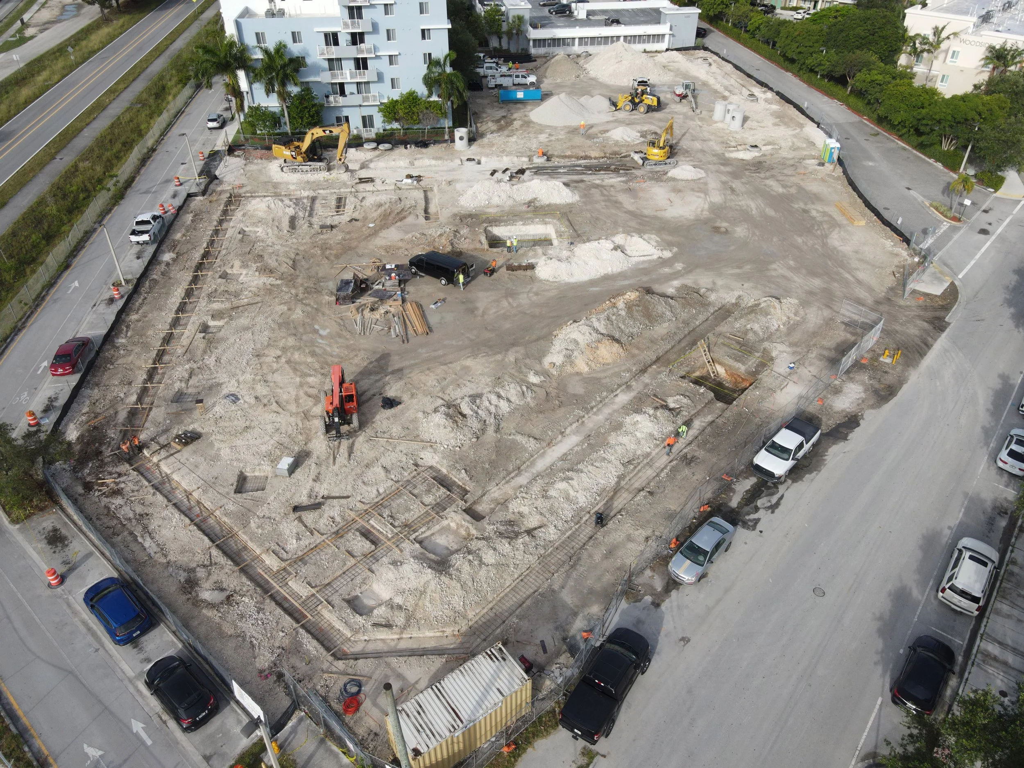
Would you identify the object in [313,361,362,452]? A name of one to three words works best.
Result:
work vehicle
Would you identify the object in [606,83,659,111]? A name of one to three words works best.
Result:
work vehicle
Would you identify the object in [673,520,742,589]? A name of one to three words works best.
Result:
car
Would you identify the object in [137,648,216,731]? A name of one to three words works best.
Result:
car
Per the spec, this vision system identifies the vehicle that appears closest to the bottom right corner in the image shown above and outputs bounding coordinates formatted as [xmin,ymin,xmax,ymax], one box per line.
[896,625,967,712]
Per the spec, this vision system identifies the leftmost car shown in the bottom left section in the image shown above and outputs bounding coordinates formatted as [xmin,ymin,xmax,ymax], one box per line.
[78,573,150,644]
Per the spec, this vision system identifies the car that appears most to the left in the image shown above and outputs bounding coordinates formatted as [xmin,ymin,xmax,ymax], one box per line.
[48,328,96,366]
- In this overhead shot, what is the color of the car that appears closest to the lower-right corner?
black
